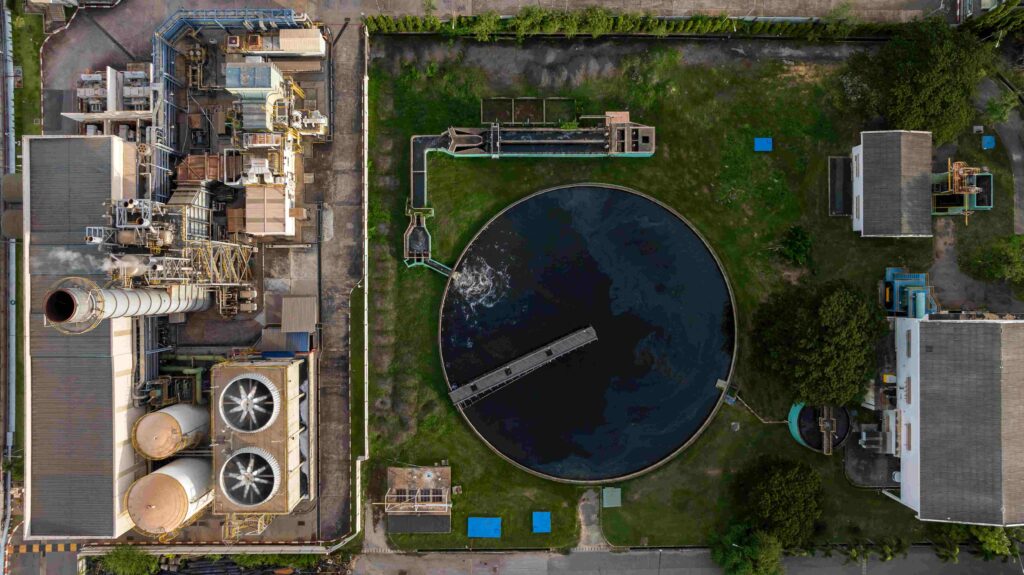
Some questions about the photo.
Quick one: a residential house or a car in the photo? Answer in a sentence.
The image shows a residential house.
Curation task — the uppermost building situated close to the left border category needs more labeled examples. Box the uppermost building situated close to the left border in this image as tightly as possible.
[24,0,89,36]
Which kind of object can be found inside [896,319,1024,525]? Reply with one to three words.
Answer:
building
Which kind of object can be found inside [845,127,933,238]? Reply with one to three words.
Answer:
building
